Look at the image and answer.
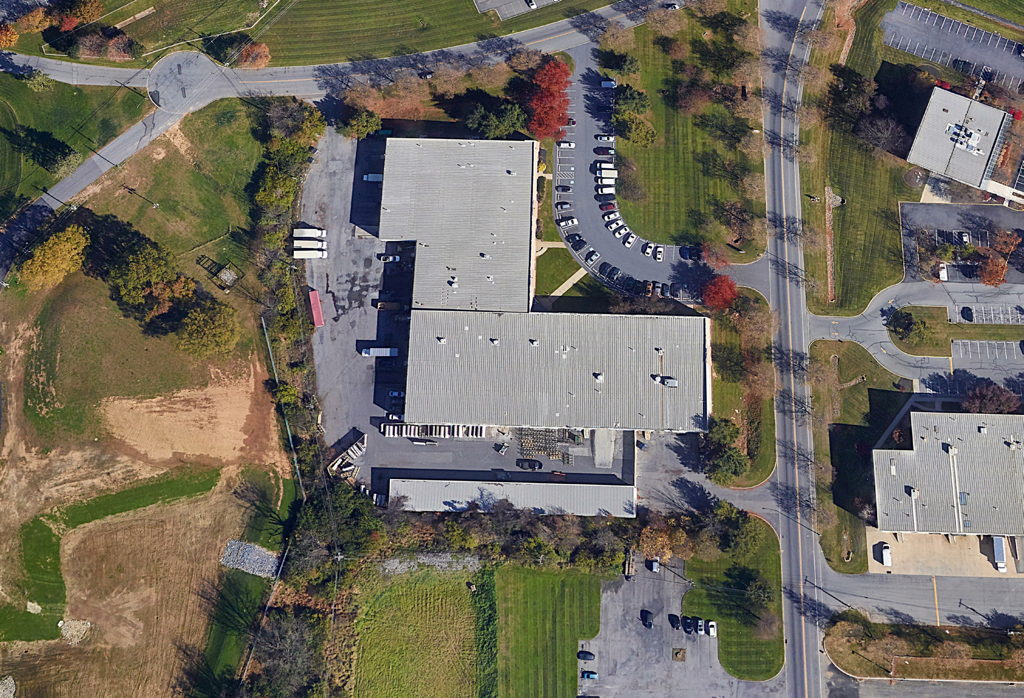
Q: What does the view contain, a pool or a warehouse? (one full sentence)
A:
There is a warehouse in the scene.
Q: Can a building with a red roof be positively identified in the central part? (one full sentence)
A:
No, there is no building with a red roof in the central part.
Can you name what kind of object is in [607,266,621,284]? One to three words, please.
vehicle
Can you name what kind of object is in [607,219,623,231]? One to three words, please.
vehicle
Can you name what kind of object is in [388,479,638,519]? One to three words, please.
building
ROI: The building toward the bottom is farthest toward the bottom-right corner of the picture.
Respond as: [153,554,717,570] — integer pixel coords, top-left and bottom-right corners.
[873,412,1024,561]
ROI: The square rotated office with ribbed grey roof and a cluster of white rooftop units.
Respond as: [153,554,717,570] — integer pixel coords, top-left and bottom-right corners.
[907,87,1016,192]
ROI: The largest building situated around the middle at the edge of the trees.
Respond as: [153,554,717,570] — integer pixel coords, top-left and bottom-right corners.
[378,137,713,433]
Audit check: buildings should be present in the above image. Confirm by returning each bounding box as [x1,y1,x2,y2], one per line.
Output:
[378,137,713,433]
[873,412,1024,561]
[907,87,1016,192]
[388,479,638,519]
